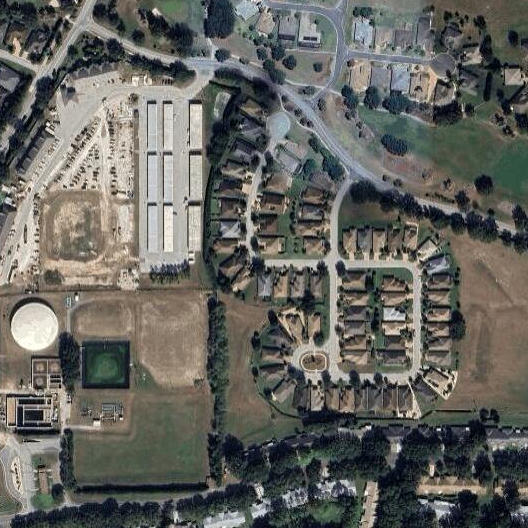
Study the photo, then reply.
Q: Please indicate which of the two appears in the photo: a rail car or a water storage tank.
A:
water storage tank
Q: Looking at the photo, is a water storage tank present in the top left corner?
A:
No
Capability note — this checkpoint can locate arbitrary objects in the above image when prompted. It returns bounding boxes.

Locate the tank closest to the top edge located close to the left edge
[10,303,59,351]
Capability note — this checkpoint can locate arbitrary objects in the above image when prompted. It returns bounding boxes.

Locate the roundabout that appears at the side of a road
[293,342,338,379]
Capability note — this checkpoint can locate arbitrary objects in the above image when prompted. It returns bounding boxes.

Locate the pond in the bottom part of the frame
[83,340,131,388]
